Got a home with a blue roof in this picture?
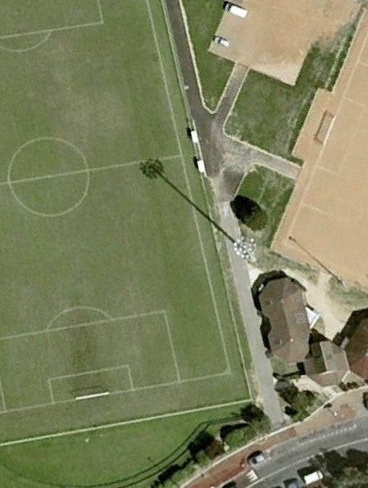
No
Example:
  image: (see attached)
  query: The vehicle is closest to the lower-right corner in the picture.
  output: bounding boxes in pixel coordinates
[304,471,322,485]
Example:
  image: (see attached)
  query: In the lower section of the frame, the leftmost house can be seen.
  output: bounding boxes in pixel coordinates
[260,277,311,364]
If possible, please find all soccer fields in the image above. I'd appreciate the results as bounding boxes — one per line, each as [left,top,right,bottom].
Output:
[270,8,368,290]
[0,0,250,446]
